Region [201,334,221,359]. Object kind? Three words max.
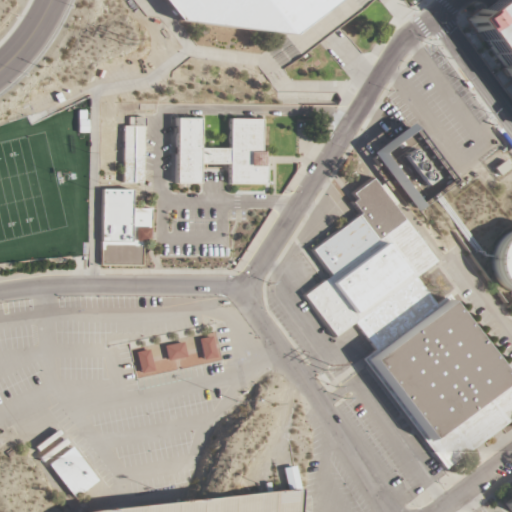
building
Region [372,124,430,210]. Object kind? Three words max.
building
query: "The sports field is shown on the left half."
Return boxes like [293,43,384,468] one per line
[0,96,91,262]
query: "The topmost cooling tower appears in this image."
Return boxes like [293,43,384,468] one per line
[404,150,443,186]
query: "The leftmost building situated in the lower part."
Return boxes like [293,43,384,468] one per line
[36,430,71,464]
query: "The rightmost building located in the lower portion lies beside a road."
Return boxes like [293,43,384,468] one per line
[302,179,512,470]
